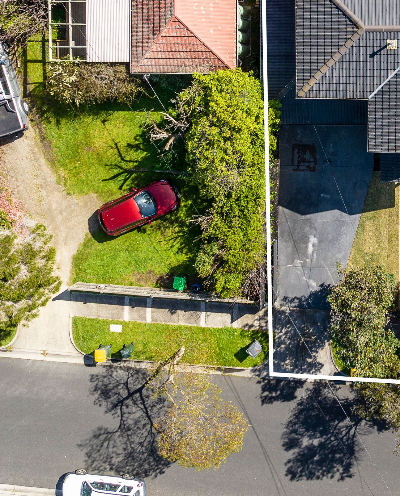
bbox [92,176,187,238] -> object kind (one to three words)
car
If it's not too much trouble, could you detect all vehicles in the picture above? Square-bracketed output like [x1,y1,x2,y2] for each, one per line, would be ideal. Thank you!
[61,467,148,496]
[92,176,187,238]
[0,36,31,140]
